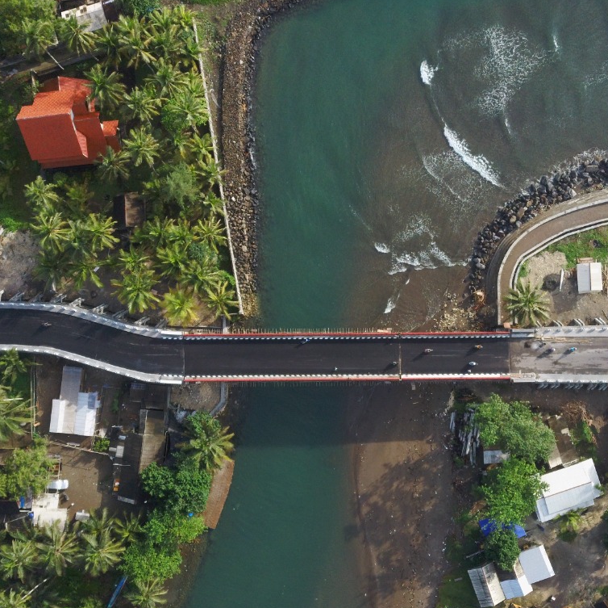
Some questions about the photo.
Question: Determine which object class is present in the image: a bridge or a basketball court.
bridge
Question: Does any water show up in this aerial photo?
Yes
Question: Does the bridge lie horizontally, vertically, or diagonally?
horizontally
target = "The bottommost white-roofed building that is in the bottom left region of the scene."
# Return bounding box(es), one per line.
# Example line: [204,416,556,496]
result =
[33,492,70,531]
